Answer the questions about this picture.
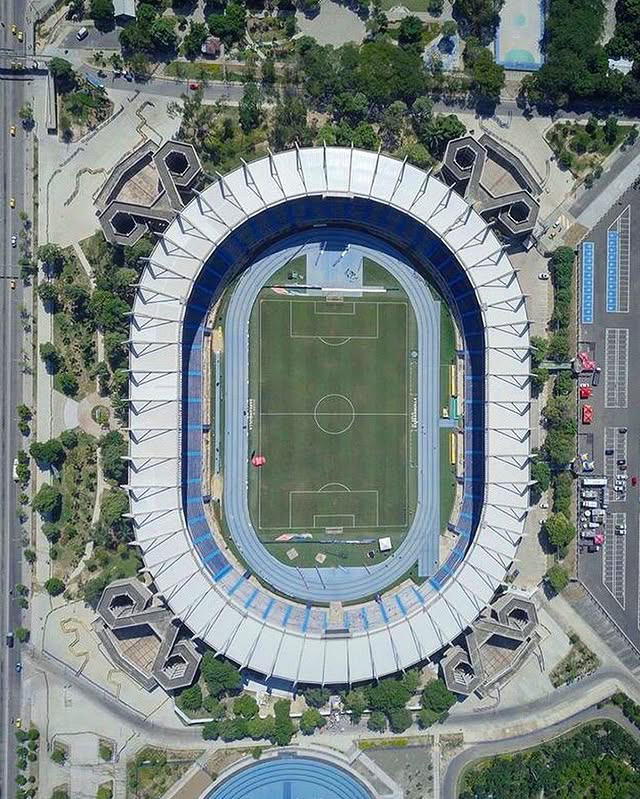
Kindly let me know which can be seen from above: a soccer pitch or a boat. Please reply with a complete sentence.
It is a soccer pitch that can be seen here.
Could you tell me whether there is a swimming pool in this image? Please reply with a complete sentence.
No, there's no swimming pool here.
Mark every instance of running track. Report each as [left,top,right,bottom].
[224,229,457,602]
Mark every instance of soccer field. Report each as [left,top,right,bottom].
[258,298,409,530]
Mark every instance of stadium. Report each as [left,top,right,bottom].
[121,140,537,691]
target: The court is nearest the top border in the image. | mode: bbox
[495,0,544,70]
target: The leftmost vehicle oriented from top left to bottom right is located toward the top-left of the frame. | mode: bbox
[84,70,104,89]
